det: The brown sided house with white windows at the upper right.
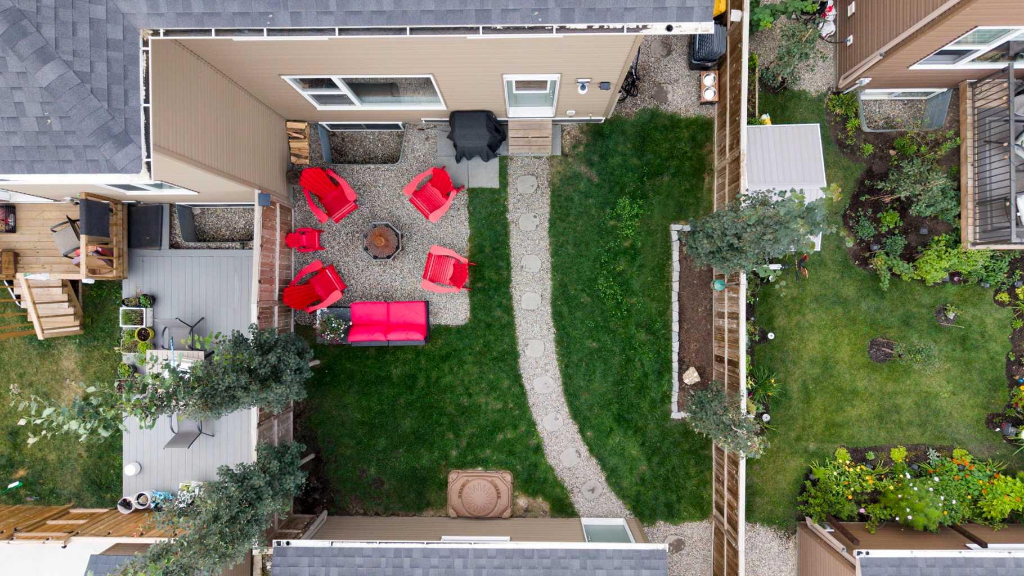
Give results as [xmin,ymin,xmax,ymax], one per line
[839,0,1024,102]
